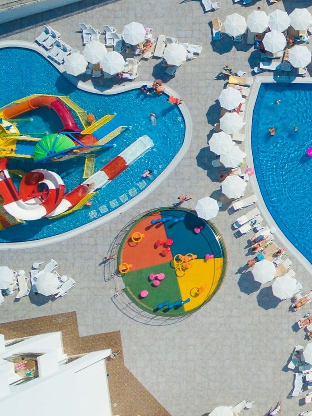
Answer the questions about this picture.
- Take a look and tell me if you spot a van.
No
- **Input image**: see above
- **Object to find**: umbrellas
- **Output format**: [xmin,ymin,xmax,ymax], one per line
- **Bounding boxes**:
[288,45,312,69]
[222,113,246,136]
[246,9,269,33]
[253,259,277,283]
[222,143,246,167]
[222,174,249,198]
[225,11,249,36]
[210,401,236,416]
[66,52,93,76]
[304,343,312,363]
[209,132,235,154]
[38,271,69,294]
[124,21,153,46]
[267,7,291,32]
[275,275,298,299]
[166,44,190,67]
[265,30,287,53]
[291,7,312,30]
[196,195,223,220]
[85,39,114,63]
[219,88,244,112]
[103,51,129,74]
[0,266,26,290]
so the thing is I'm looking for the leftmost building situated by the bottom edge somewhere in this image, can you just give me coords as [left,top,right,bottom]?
[0,331,114,416]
